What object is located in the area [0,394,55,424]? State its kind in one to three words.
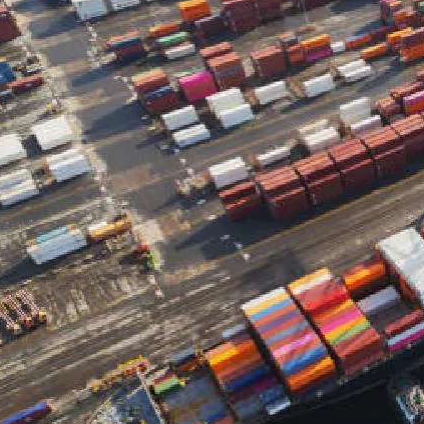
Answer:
shipping container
